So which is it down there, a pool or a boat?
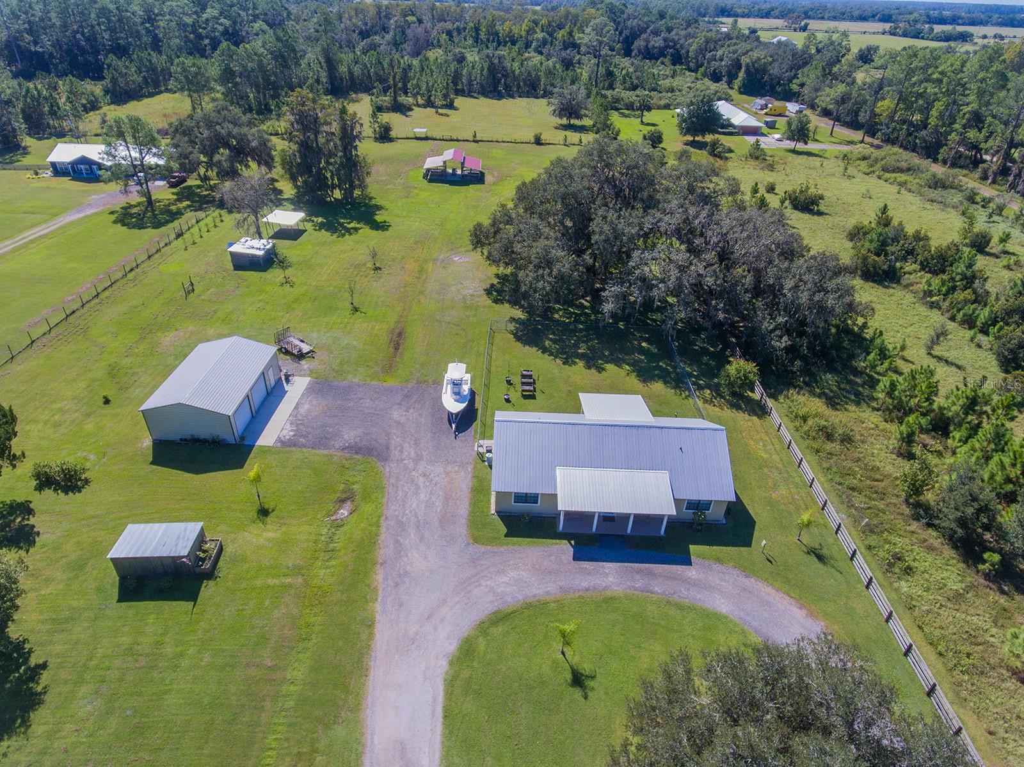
boat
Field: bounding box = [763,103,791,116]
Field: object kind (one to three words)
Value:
vehicle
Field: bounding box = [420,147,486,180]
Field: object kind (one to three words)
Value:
building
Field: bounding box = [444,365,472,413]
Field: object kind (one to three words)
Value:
boat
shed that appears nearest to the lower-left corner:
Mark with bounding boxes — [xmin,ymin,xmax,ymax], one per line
[107,523,205,576]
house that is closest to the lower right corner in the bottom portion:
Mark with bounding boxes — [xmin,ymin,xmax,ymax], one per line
[490,393,739,540]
